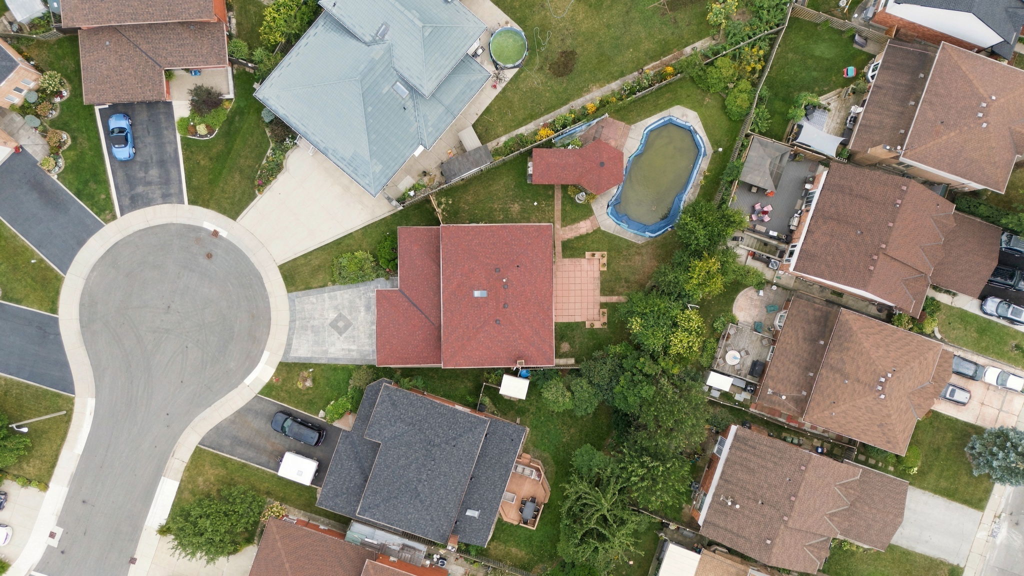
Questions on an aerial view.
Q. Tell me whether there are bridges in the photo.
No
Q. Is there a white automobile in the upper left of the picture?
No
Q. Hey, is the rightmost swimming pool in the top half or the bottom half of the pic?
top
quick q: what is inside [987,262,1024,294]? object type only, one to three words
truck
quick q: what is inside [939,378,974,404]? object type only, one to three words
car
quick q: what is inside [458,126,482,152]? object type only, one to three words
shed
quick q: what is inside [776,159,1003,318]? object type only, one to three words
house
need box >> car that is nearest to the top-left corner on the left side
[108,115,137,161]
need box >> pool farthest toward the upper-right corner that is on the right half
[607,100,705,238]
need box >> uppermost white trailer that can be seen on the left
[277,451,320,486]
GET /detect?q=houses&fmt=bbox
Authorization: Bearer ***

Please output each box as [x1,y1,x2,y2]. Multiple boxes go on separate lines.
[0,37,40,171]
[690,421,910,575]
[253,0,492,198]
[375,223,556,369]
[841,38,1024,196]
[776,159,1003,318]
[315,378,527,555]
[751,296,954,457]
[250,508,456,576]
[58,0,235,108]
